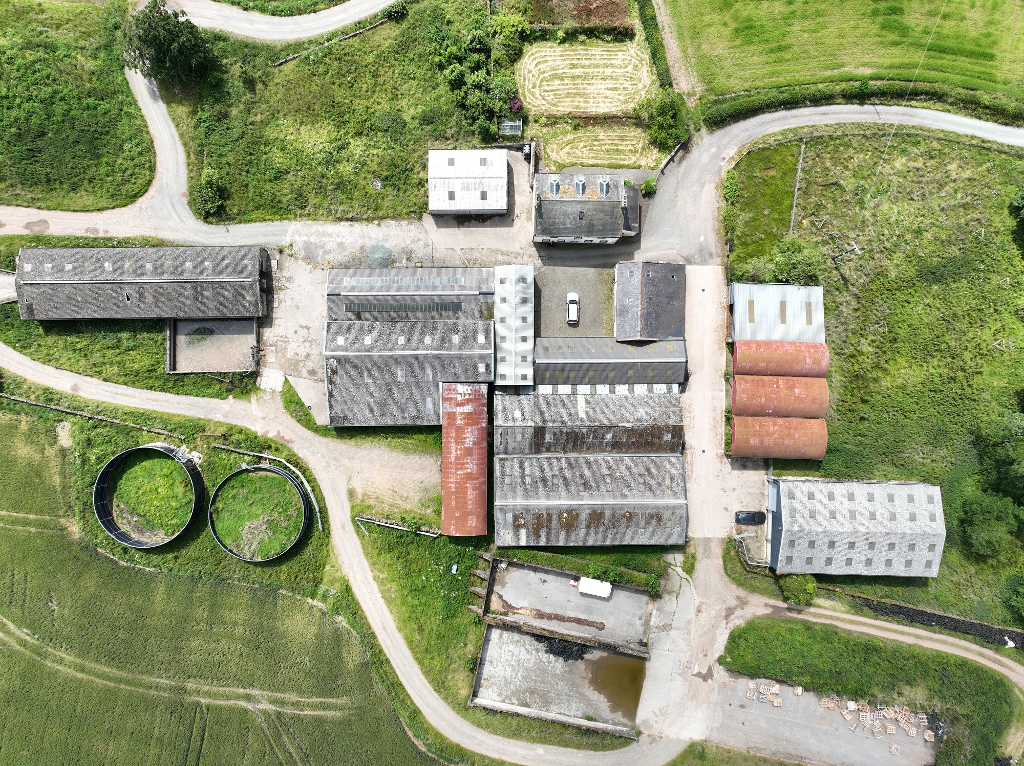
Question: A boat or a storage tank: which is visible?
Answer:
storage tank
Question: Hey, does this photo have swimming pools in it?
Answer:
No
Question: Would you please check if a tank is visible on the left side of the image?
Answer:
Yes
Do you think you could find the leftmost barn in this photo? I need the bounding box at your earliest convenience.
[15,245,268,320]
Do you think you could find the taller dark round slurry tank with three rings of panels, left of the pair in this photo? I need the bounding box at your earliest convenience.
[93,445,204,549]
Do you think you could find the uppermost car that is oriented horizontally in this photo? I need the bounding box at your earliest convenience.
[734,510,766,526]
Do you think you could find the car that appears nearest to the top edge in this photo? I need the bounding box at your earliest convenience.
[565,292,581,324]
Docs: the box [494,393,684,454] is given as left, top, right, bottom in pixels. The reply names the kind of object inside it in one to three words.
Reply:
shed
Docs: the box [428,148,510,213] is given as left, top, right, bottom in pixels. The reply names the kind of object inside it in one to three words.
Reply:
barn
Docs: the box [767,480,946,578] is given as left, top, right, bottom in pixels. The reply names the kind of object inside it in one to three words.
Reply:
shed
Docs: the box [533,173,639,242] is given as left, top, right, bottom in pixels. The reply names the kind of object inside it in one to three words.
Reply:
house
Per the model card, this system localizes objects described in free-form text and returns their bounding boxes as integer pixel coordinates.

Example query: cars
[565,292,581,324]
[734,510,766,526]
